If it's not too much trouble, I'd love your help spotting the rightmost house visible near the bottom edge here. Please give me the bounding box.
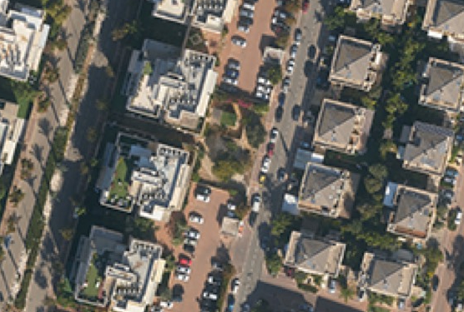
[357,252,425,304]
